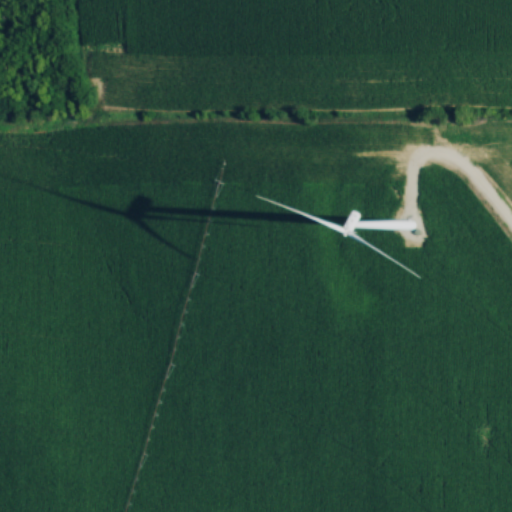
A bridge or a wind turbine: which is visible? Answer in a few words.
wind turbine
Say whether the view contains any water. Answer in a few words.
No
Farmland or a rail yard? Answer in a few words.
farmland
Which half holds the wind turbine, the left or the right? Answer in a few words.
right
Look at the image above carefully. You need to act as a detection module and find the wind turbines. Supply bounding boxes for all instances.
[262,195,424,279]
